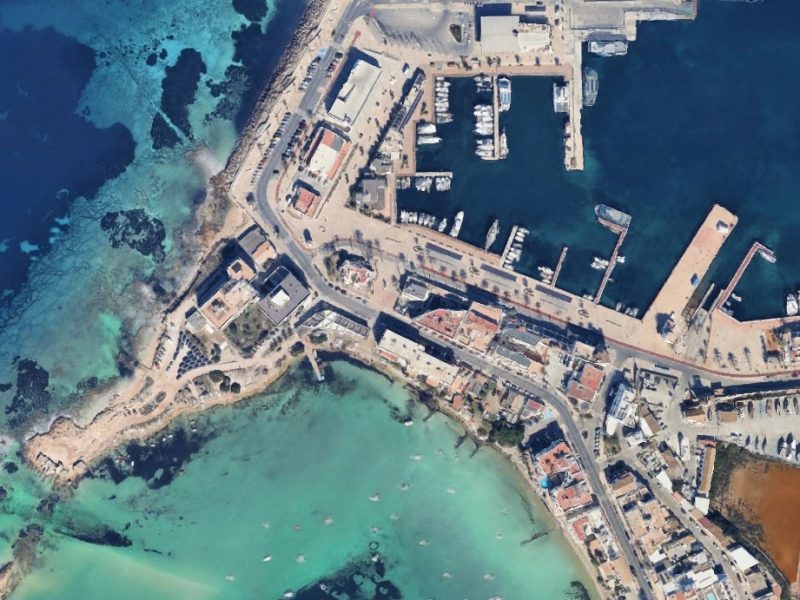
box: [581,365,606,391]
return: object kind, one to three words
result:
house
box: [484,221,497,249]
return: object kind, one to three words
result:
boat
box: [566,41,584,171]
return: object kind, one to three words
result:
pier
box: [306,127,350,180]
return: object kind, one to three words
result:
building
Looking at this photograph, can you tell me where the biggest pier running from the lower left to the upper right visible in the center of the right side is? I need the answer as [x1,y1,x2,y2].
[641,204,737,335]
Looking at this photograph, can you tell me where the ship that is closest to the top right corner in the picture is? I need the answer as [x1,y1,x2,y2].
[588,41,627,54]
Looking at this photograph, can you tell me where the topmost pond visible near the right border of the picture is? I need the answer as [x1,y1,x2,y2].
[721,457,800,587]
